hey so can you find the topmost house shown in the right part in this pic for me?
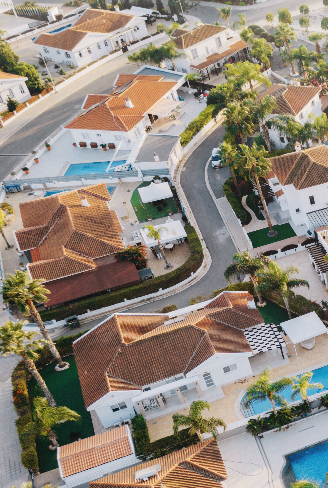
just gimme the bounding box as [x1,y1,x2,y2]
[171,20,251,82]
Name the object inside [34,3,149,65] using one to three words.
house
